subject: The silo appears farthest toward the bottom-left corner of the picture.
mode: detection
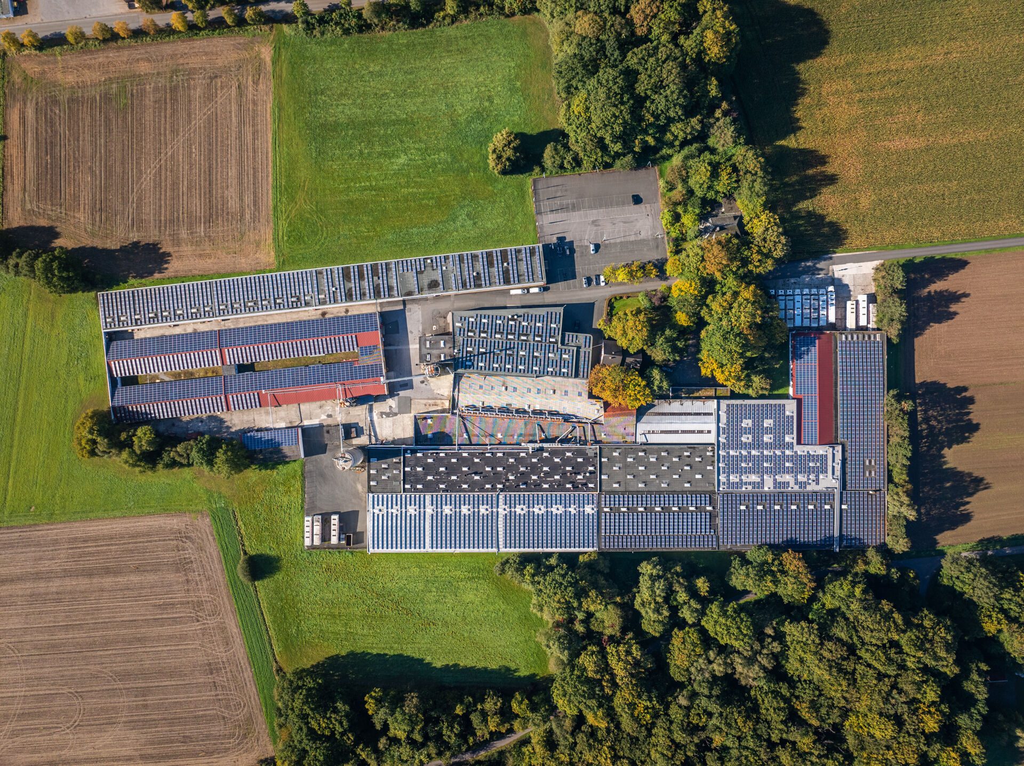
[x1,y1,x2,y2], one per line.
[332,449,363,472]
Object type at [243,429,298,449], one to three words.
solar array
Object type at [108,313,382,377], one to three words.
shed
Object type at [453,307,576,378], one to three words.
building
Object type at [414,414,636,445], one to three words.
building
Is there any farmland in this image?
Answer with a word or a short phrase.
Yes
